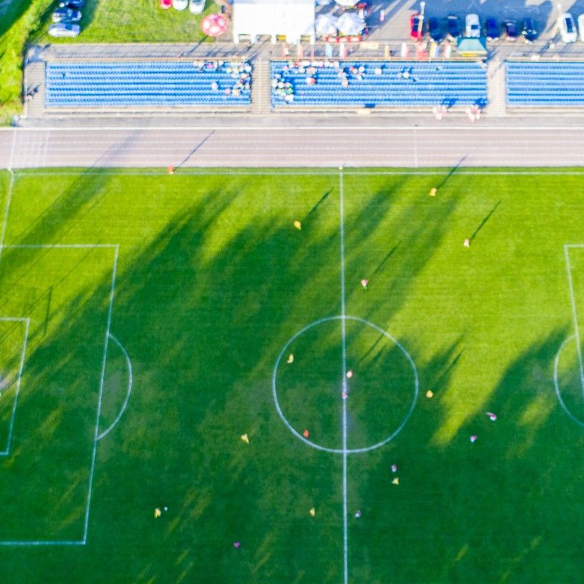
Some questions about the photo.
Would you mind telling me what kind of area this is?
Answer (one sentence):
The area seen from above is a sports ground.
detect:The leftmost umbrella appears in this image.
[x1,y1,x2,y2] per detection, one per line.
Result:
[203,16,226,38]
